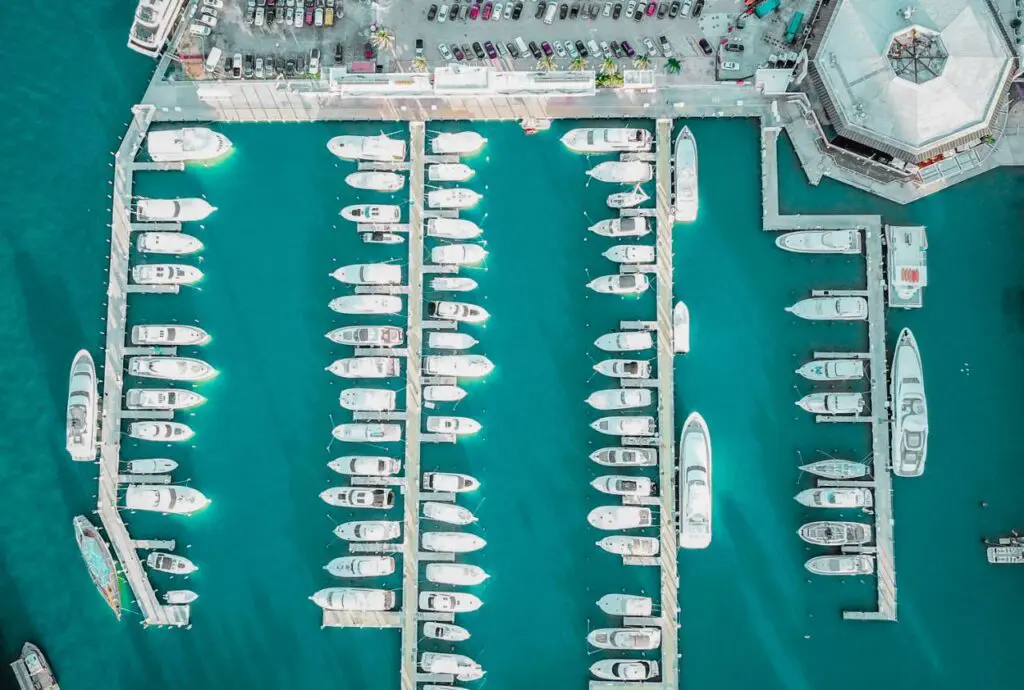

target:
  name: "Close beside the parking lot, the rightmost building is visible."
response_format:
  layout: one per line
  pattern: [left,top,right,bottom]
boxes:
[803,0,1014,166]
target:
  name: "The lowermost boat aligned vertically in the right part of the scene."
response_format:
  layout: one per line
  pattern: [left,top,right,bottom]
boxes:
[680,412,712,548]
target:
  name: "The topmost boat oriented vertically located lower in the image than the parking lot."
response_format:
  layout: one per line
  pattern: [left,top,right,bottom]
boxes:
[674,124,698,223]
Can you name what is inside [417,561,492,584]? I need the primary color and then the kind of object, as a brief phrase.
white boat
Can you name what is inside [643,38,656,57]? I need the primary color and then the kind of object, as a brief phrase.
white vehicle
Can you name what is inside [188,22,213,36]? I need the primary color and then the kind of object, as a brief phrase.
white vehicle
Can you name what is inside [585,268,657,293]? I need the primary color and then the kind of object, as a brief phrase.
white boat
